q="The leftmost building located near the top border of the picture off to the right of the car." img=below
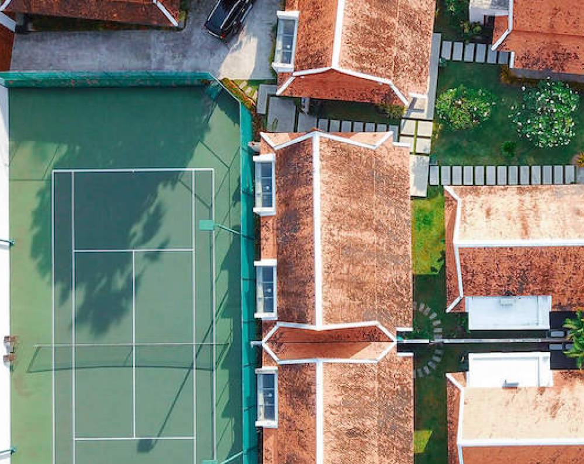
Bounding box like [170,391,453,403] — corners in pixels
[274,0,433,108]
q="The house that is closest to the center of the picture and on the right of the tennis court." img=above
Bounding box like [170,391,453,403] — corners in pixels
[254,130,414,342]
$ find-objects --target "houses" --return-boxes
[256,341,415,464]
[0,0,184,29]
[274,0,433,108]
[444,352,584,464]
[254,130,414,342]
[443,185,584,330]
[470,0,584,75]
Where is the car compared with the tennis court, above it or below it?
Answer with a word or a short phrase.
above it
